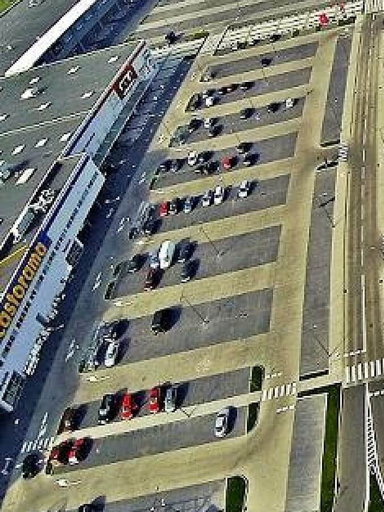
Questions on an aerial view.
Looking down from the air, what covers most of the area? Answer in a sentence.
The bulk of the photo consists of paved ground.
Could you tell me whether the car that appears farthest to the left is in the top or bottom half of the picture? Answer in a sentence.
The bottom half of the photo is where the car that appears farthest to the left is.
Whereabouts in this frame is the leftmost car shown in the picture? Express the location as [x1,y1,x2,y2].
[11,447,50,482]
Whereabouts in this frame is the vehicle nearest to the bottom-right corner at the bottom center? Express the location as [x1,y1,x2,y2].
[212,409,231,441]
